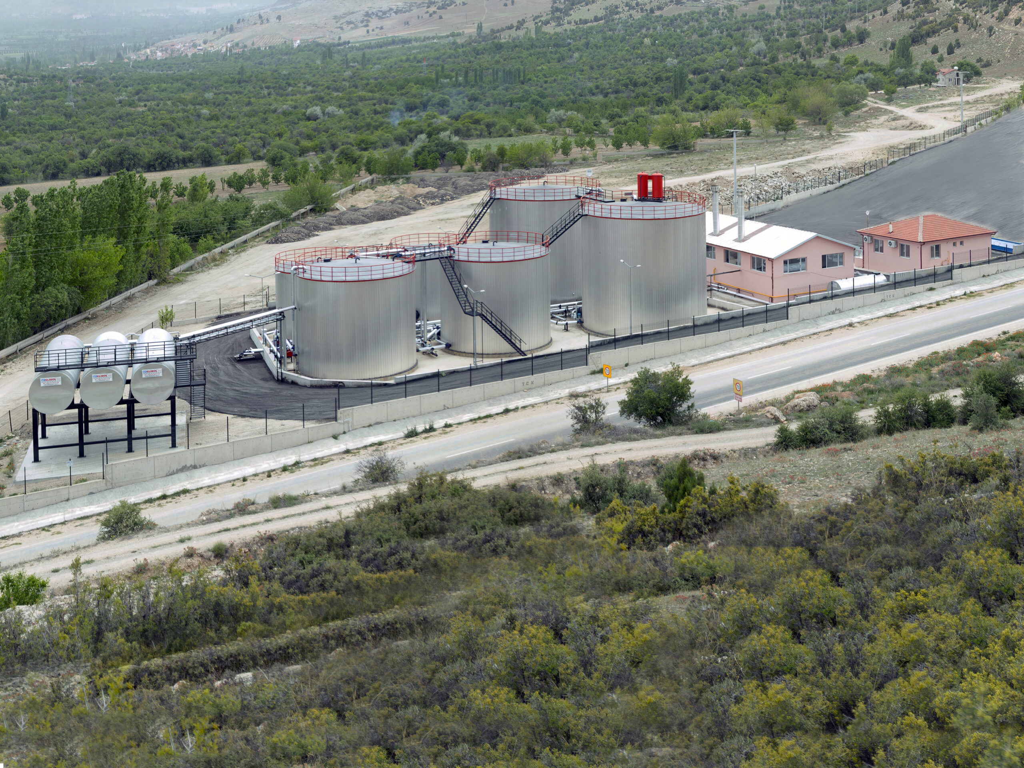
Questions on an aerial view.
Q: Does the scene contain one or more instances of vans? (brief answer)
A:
No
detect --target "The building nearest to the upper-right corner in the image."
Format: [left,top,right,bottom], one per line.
[935,63,964,86]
